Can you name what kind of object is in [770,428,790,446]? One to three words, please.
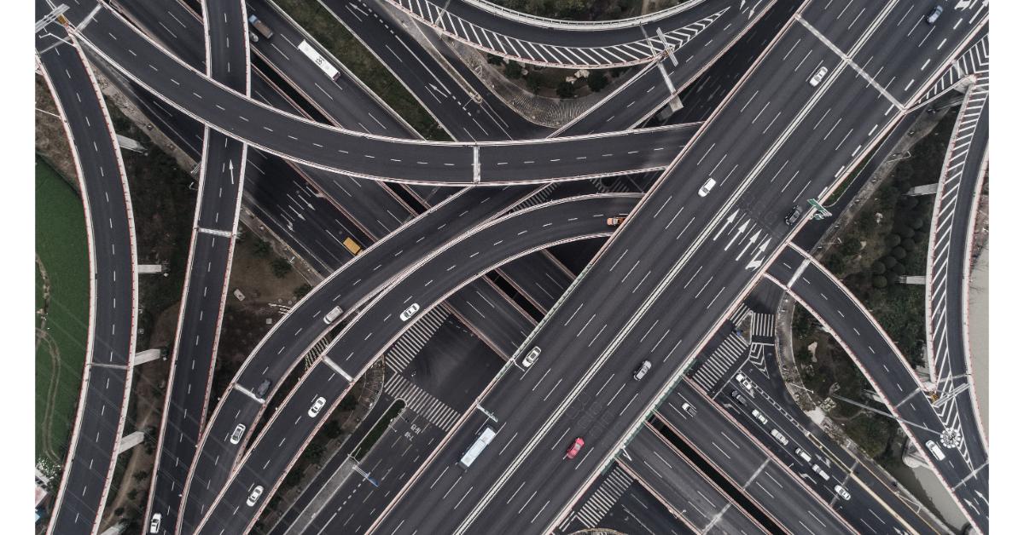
car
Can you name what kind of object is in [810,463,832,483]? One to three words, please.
vehicle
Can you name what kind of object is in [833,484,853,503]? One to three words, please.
car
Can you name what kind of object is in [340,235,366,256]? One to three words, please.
truck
